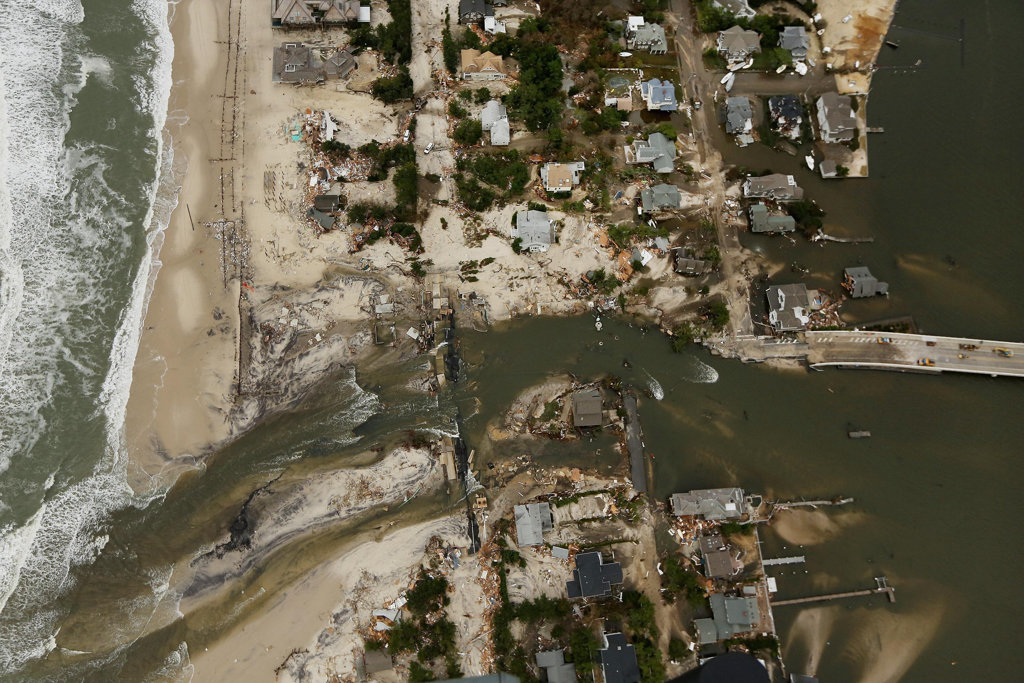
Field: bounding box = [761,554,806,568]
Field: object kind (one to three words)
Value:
pier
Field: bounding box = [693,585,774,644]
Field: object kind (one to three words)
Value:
building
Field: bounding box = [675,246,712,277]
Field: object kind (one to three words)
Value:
house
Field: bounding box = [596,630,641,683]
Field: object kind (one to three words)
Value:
house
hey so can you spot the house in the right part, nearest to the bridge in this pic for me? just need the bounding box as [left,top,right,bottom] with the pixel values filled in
[762,283,821,333]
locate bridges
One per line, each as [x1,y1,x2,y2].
[805,330,1024,378]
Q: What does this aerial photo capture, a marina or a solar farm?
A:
marina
